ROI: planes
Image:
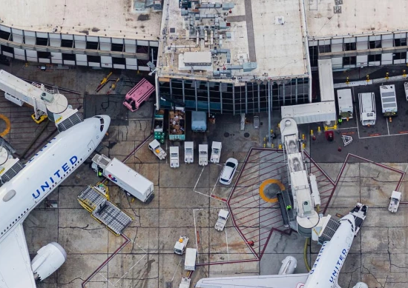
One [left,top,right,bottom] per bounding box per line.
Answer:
[193,211,371,288]
[0,112,111,288]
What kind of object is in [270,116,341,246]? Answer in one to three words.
jet bridge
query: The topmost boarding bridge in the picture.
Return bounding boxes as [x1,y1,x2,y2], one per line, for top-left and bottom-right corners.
[0,69,87,128]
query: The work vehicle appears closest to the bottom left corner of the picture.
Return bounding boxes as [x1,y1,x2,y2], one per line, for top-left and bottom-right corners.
[75,183,134,240]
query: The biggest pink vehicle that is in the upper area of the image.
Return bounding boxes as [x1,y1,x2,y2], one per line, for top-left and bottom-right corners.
[122,82,155,113]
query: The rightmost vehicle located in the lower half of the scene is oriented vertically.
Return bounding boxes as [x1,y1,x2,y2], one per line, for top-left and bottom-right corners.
[388,189,402,215]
